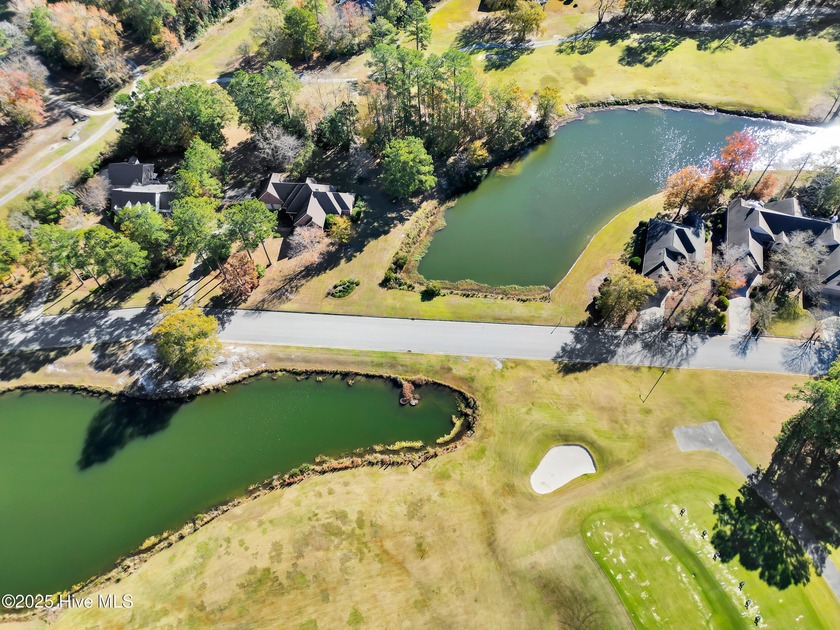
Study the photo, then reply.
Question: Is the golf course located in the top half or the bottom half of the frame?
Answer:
bottom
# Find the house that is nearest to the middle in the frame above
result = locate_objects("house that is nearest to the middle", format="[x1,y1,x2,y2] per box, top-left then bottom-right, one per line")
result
[258,171,358,240]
